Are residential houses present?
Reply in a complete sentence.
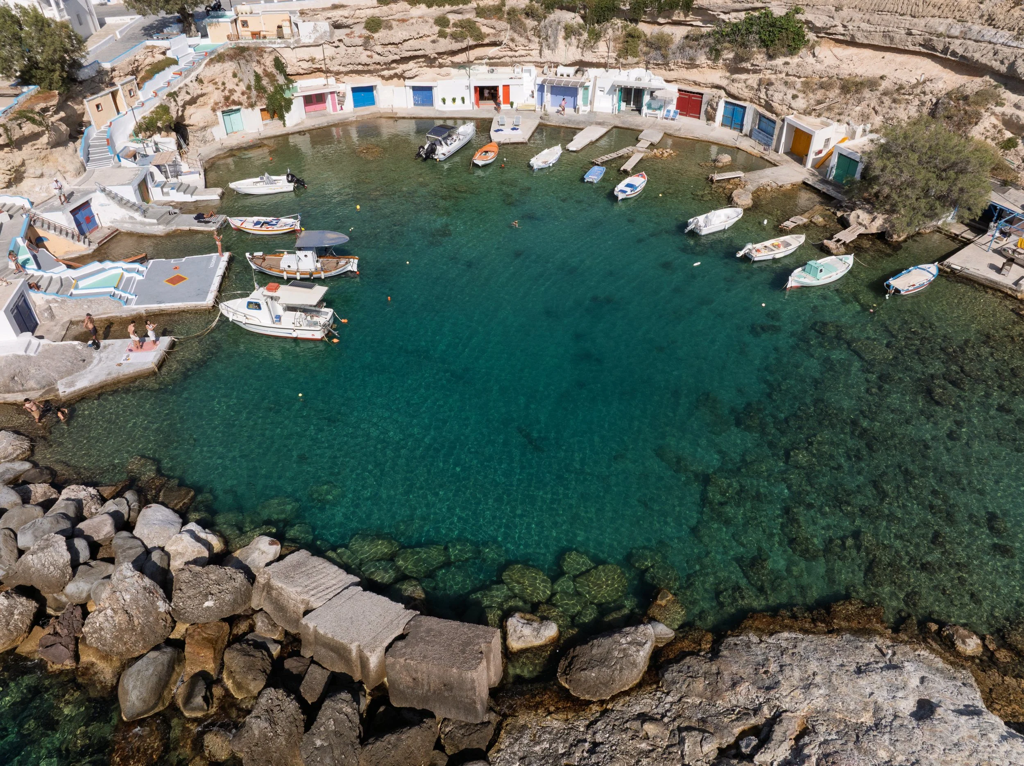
Yes, there's a residential house down there.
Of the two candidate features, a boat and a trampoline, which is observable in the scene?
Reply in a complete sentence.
Visible in the photo is a boat.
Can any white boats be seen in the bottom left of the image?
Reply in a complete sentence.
No, in the bottom left of the image there is no white boat.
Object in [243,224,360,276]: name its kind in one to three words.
boat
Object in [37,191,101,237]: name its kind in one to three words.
house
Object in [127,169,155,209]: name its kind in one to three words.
building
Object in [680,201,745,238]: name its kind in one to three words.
boat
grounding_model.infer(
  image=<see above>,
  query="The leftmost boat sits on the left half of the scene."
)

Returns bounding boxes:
[72,251,146,265]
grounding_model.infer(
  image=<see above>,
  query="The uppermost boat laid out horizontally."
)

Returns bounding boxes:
[228,172,313,197]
